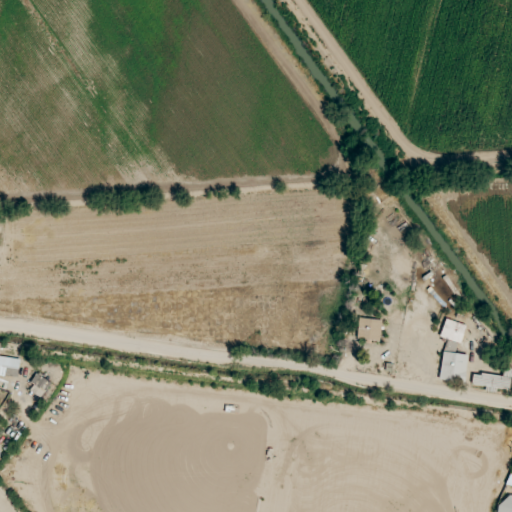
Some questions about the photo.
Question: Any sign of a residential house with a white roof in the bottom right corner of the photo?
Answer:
Yes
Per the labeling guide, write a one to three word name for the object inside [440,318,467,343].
house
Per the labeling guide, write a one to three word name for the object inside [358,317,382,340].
house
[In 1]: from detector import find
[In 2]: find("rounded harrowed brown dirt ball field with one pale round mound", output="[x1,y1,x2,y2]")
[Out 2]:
[92,398,268,512]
